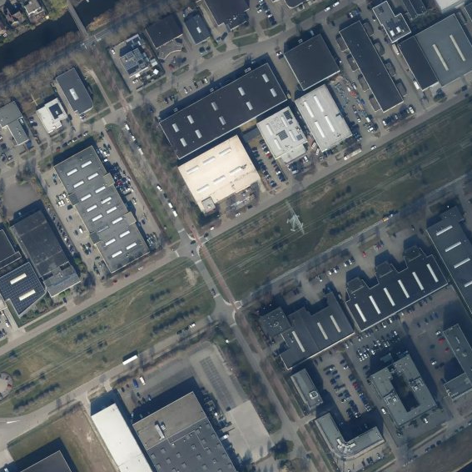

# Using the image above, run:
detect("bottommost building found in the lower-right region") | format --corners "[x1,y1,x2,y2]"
[314,413,386,458]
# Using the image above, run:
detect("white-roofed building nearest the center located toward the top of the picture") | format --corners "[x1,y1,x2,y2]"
[177,135,260,214]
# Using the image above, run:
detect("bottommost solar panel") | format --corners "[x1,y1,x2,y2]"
[0,265,44,314]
